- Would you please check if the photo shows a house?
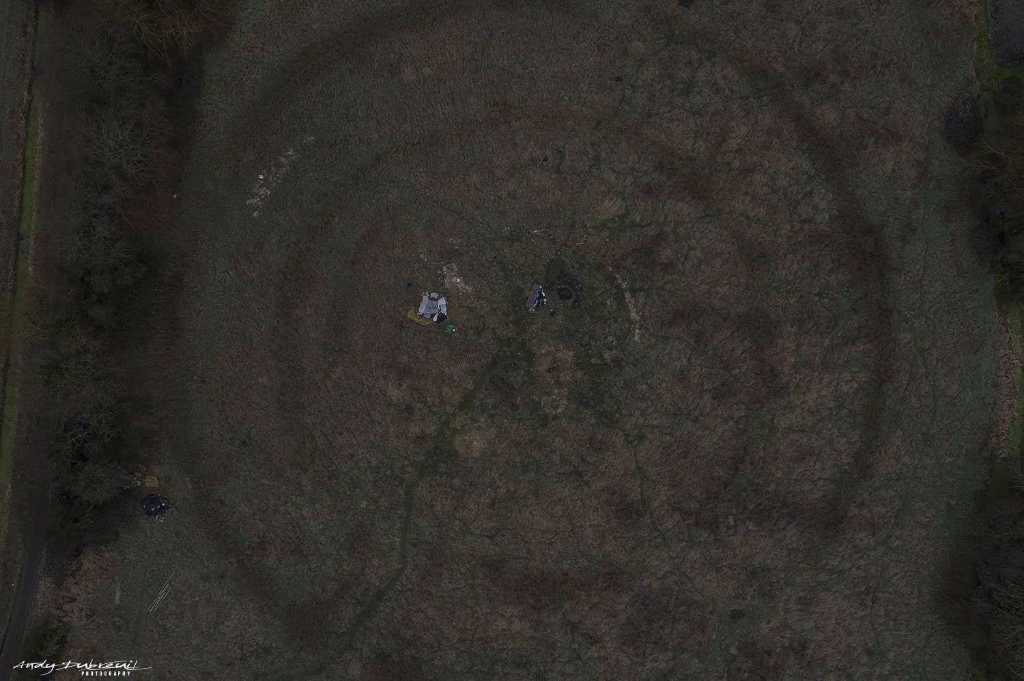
No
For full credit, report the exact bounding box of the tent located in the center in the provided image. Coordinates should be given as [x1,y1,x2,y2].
[416,291,448,321]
